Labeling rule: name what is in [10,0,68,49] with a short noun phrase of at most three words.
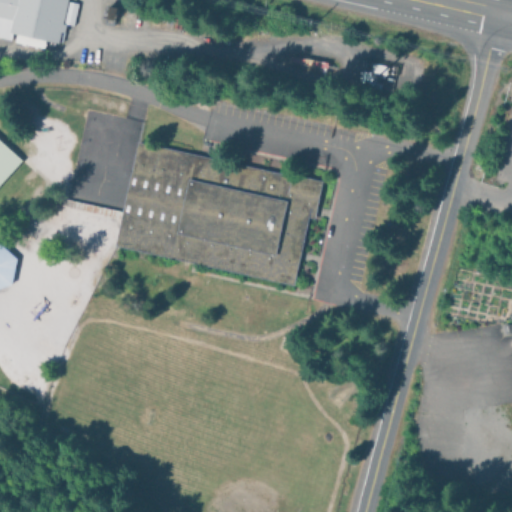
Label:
building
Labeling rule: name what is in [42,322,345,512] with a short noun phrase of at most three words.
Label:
sports field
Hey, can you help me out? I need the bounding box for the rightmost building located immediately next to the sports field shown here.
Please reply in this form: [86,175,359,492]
[118,143,324,290]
